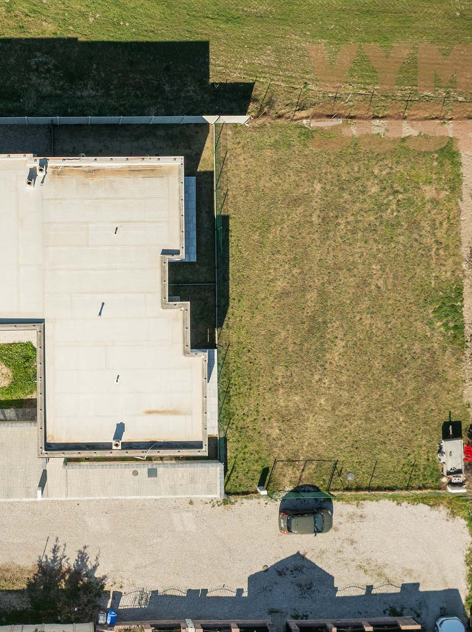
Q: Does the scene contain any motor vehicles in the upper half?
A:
No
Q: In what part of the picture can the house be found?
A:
left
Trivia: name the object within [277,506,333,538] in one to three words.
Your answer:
car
